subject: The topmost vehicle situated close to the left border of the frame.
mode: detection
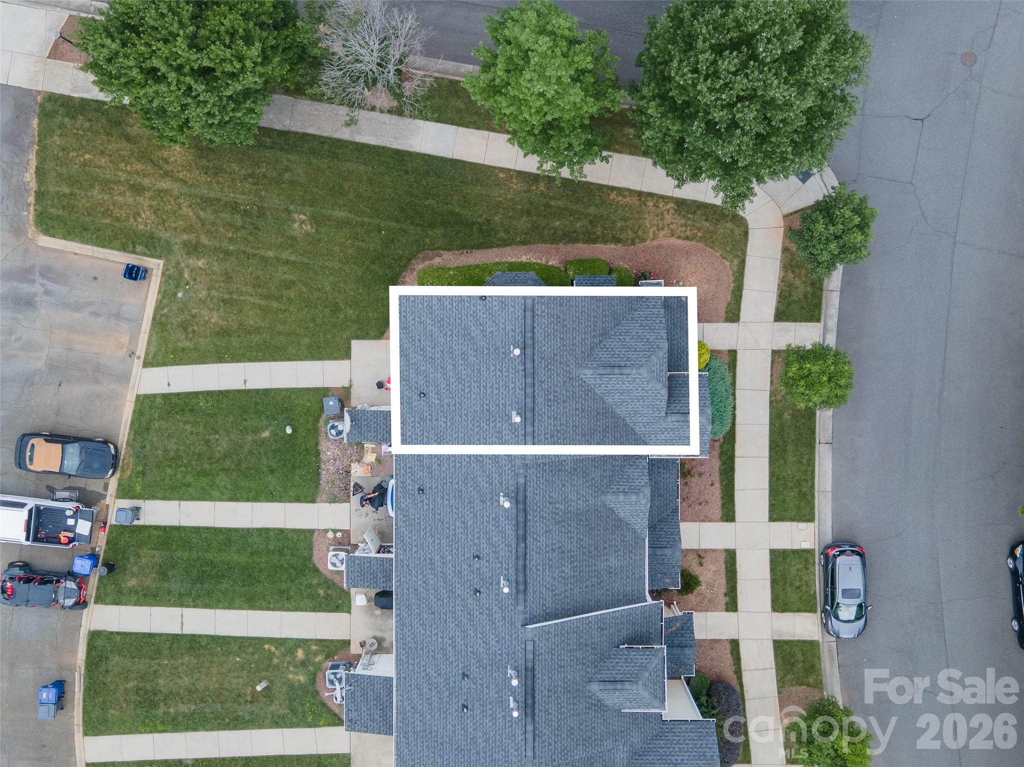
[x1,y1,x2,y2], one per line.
[15,431,123,484]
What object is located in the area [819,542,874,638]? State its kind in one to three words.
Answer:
car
